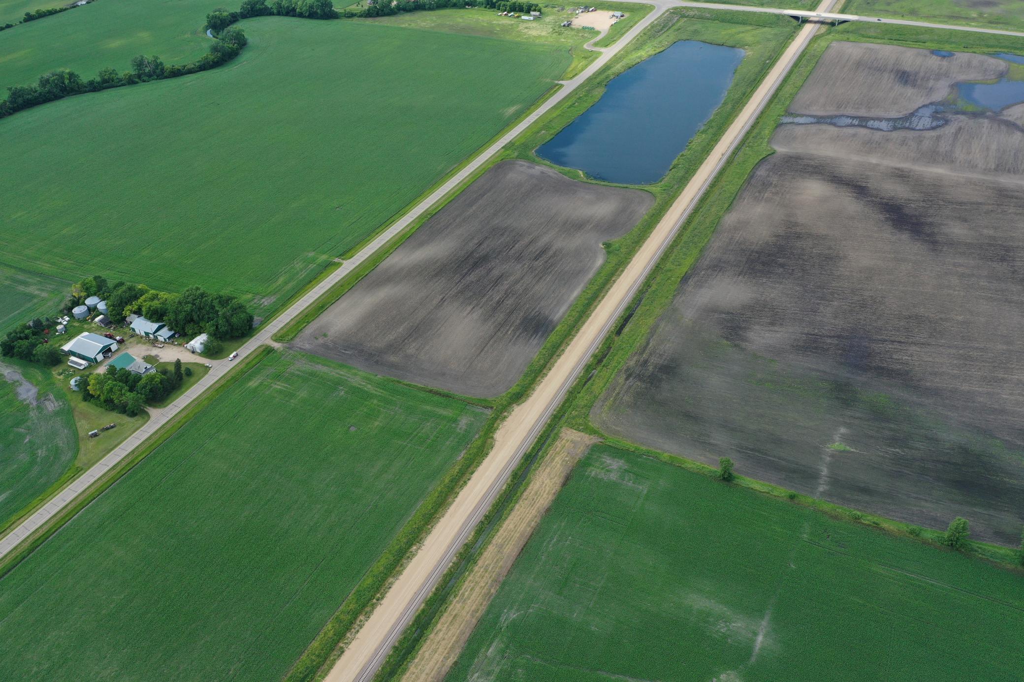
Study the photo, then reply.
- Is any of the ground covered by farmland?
Yes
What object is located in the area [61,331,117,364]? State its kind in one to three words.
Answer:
barn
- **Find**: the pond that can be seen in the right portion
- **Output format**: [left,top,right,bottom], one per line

[537,40,744,185]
